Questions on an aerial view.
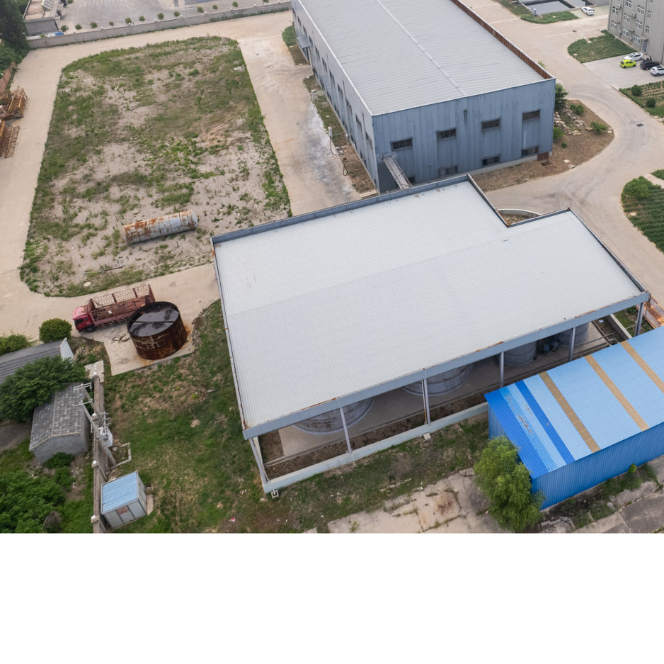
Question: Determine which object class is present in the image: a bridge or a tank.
tank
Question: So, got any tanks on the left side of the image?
Yes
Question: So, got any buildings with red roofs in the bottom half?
No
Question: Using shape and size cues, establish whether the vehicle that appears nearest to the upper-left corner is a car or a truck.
truck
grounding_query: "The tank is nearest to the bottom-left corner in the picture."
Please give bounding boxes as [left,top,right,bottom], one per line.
[123,300,191,365]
